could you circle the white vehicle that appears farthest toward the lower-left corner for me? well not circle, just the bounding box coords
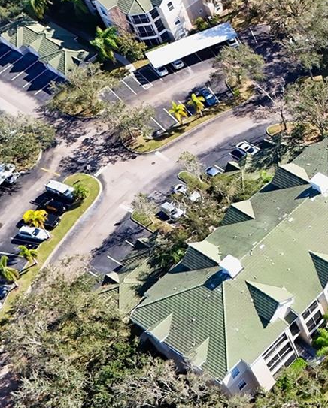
[16,226,46,243]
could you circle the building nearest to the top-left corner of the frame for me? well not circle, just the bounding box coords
[0,6,96,76]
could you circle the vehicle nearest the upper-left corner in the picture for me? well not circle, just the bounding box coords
[149,62,168,79]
